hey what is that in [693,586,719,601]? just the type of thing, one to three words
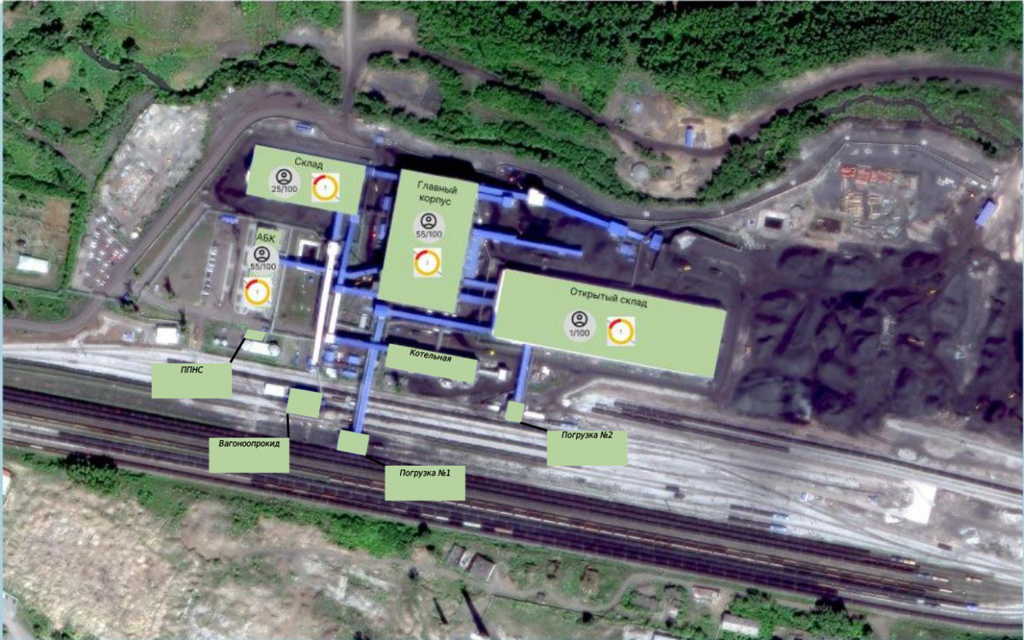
house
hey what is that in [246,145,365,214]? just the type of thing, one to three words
building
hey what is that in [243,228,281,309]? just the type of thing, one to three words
building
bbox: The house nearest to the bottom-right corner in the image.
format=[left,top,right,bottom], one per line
[721,611,759,635]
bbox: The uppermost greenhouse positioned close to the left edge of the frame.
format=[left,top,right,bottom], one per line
[17,256,49,273]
